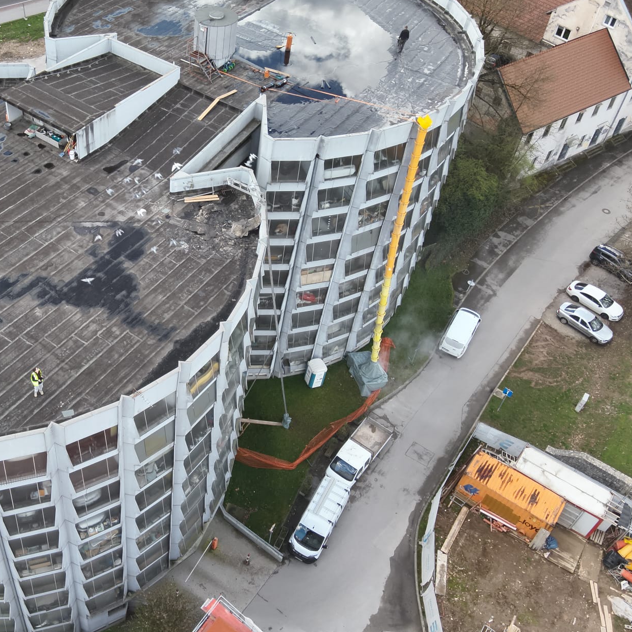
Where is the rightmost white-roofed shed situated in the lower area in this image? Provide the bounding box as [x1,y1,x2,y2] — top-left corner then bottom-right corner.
[514,449,613,537]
